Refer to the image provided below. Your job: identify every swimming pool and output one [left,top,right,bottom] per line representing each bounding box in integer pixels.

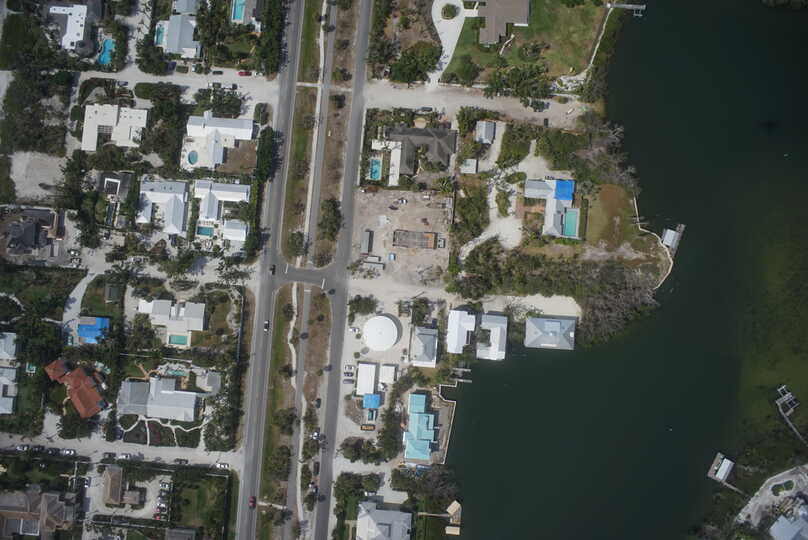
[166,369,191,377]
[369,158,383,180]
[232,0,245,21]
[564,210,578,237]
[167,334,189,346]
[155,24,165,46]
[98,38,116,65]
[186,149,199,166]
[105,202,115,226]
[368,410,375,422]
[196,226,214,237]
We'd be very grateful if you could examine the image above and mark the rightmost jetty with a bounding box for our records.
[775,384,808,447]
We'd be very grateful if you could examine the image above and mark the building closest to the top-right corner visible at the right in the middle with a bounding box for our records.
[661,223,686,257]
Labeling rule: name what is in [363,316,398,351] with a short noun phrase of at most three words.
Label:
building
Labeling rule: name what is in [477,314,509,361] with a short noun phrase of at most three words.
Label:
house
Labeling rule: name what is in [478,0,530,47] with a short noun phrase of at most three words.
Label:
house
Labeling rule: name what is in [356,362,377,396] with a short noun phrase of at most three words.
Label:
building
